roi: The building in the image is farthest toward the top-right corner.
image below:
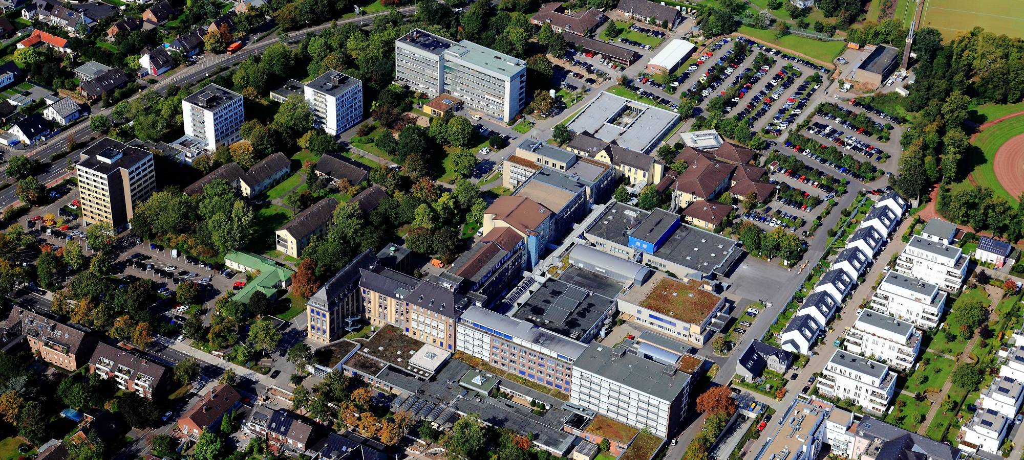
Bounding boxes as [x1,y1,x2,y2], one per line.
[856,44,899,86]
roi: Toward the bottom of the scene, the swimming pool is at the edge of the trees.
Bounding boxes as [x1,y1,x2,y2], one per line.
[59,406,86,425]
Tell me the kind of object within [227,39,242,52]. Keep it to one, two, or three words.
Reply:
vehicle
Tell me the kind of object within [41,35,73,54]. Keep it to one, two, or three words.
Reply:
house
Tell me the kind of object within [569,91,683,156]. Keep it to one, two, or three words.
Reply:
building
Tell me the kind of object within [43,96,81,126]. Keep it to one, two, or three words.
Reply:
house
